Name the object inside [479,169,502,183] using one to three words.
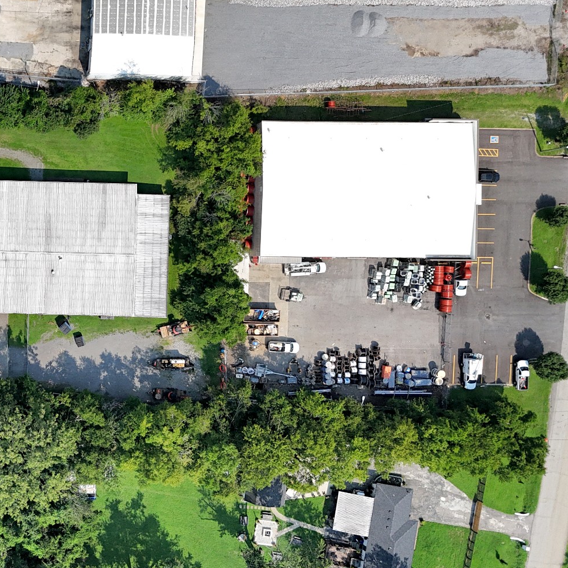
vehicle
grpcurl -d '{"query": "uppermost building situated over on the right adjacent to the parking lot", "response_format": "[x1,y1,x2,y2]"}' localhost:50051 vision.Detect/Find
[250,118,484,264]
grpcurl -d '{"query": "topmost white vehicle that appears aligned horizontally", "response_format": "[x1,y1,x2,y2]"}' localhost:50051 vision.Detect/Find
[283,260,325,275]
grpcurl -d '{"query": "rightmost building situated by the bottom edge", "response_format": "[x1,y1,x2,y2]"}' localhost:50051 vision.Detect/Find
[363,484,419,568]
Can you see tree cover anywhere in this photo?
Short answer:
Yes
